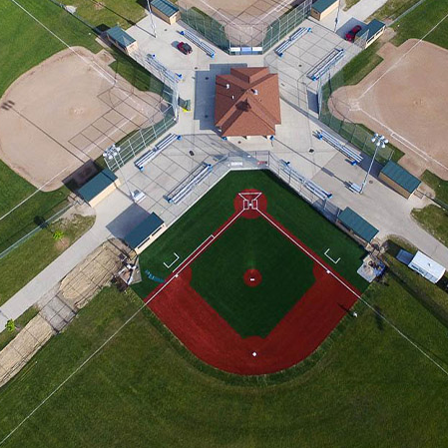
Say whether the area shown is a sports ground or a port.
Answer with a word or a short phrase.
sports ground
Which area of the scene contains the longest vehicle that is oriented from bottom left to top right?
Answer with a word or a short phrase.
top right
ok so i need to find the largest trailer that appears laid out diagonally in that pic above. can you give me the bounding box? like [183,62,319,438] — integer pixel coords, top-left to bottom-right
[399,250,445,285]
